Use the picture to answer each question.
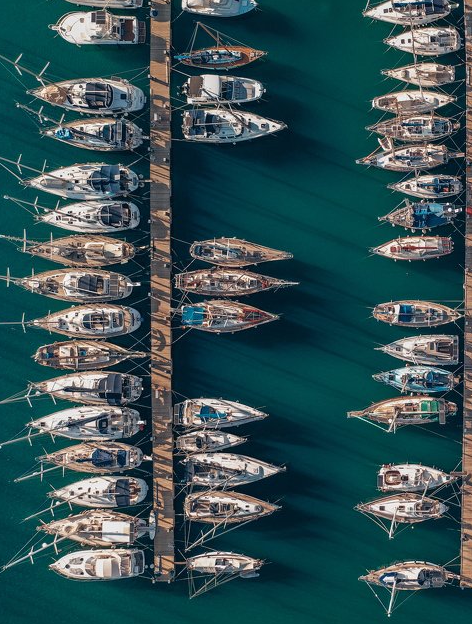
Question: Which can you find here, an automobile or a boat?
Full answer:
I can see a boat in this picture.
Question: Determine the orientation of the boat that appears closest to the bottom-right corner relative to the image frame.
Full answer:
The boat that appears closest to the bottom-right corner runs horizontally in the image.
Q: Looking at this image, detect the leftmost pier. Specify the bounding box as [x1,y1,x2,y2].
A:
[147,0,178,582]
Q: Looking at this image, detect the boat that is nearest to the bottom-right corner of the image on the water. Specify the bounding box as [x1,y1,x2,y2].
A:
[352,561,461,616]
